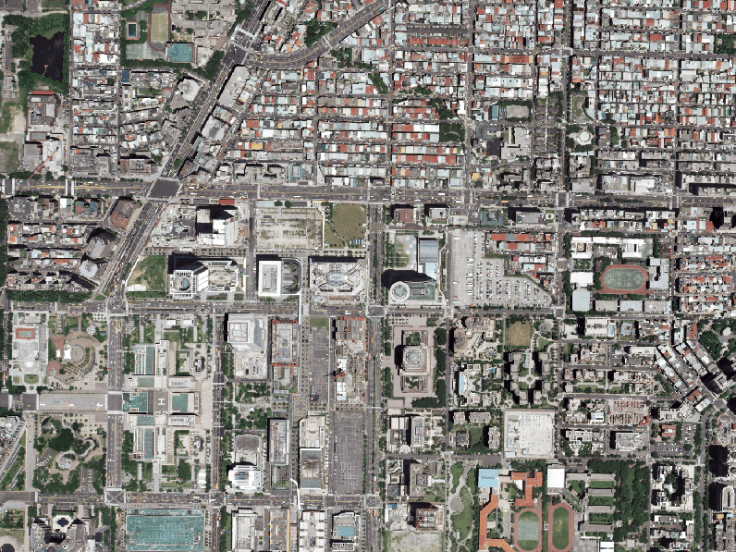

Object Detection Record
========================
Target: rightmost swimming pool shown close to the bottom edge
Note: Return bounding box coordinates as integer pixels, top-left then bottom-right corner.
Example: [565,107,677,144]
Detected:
[53,515,71,531]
